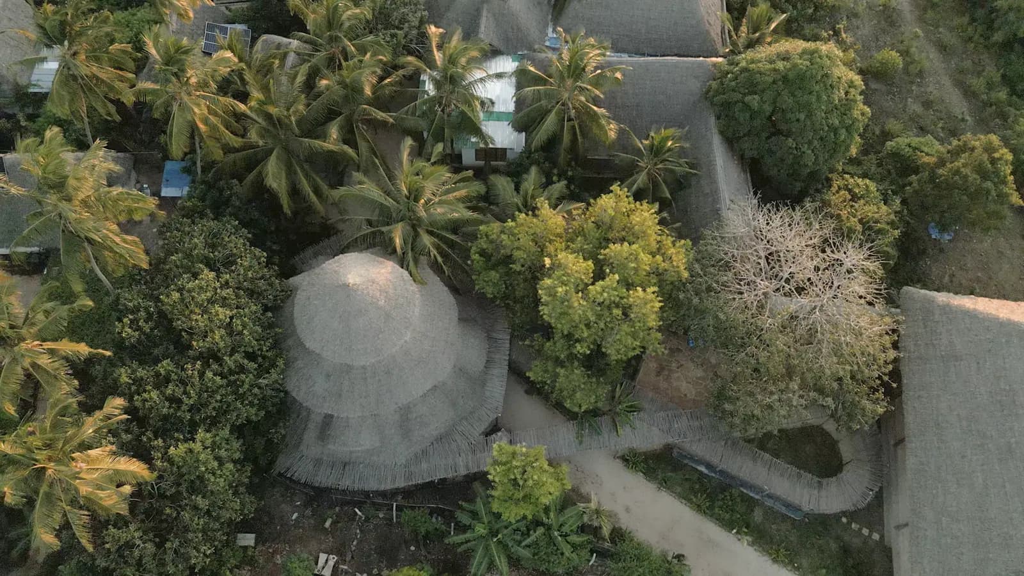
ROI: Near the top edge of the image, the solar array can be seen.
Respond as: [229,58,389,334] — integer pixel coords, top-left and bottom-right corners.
[202,22,255,69]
